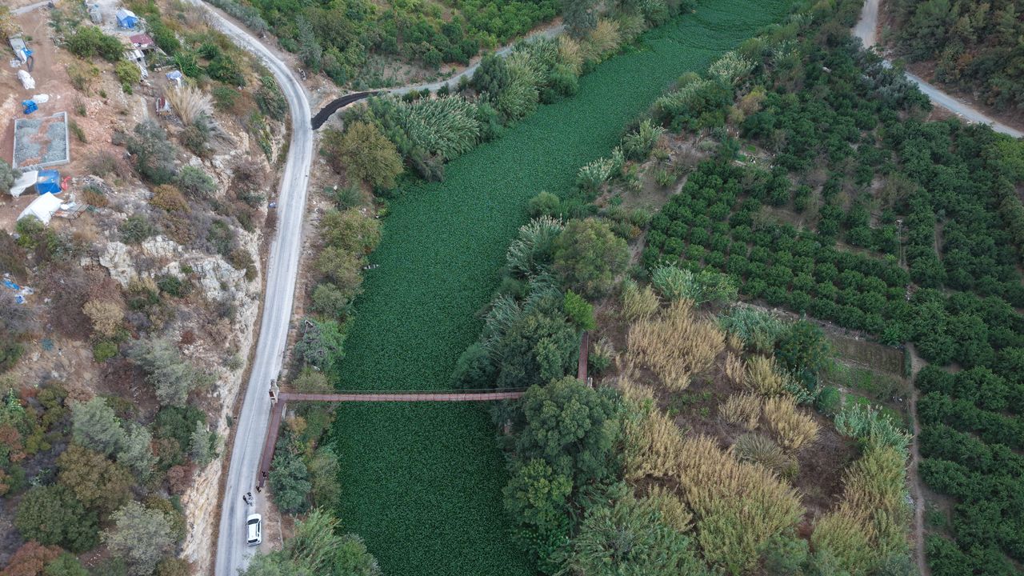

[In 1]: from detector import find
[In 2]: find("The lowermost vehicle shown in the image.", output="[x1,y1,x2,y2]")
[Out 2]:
[244,513,265,548]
